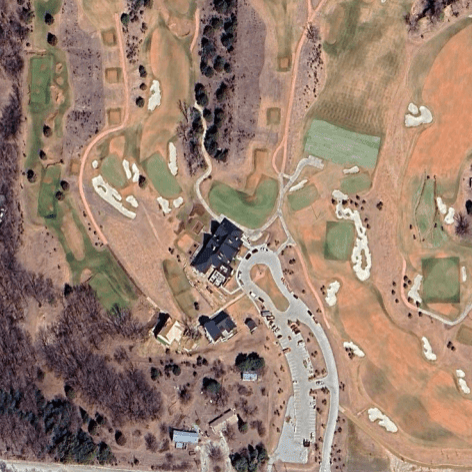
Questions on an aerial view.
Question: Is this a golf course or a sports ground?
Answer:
golf course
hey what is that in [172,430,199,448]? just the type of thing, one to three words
house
